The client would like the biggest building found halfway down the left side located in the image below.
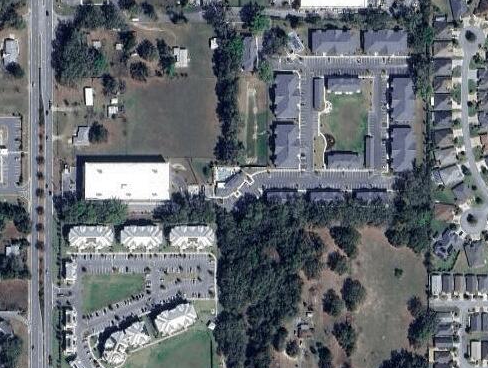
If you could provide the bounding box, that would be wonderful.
[83,160,170,200]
